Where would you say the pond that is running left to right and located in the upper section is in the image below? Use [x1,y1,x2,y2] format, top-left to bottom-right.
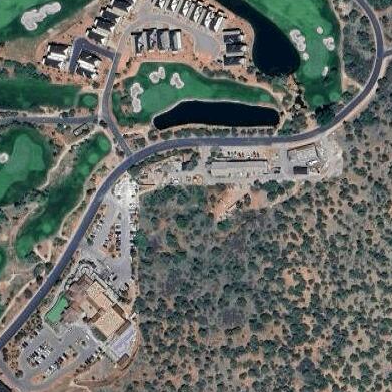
[153,103,279,128]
